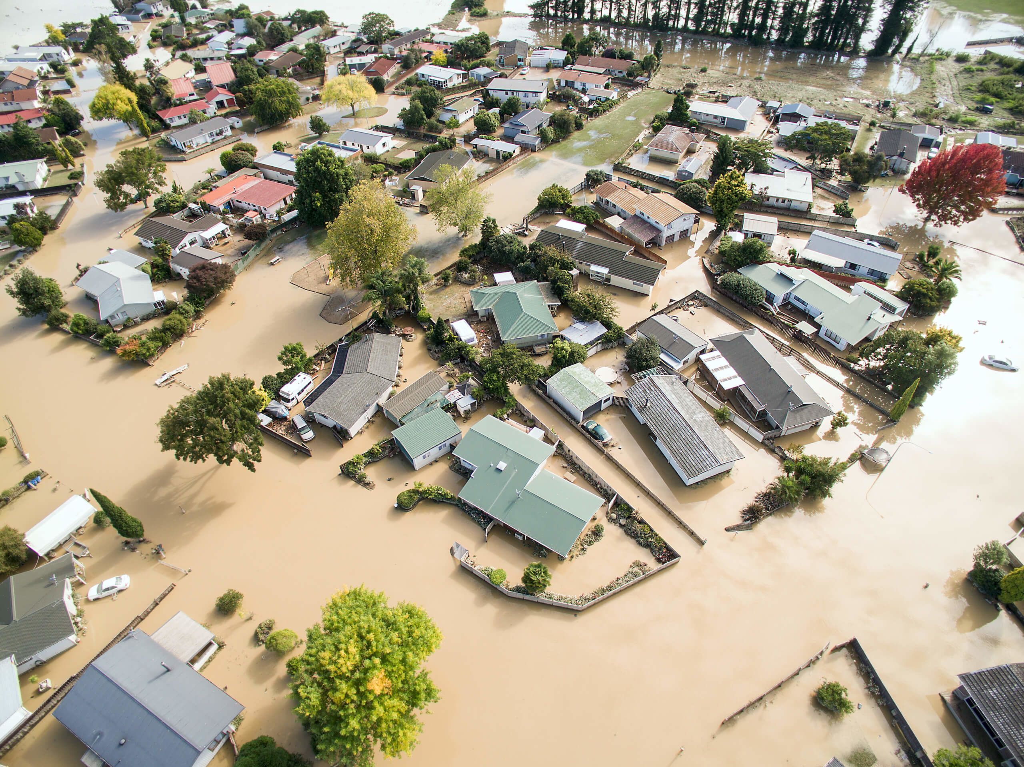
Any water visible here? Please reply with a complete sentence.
Yes, some water is visible.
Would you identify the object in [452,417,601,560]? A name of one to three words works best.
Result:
house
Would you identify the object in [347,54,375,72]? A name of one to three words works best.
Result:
building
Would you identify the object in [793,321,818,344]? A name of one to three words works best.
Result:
gazebo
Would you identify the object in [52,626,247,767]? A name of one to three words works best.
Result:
house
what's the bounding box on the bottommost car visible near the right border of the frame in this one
[979,359,1016,375]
